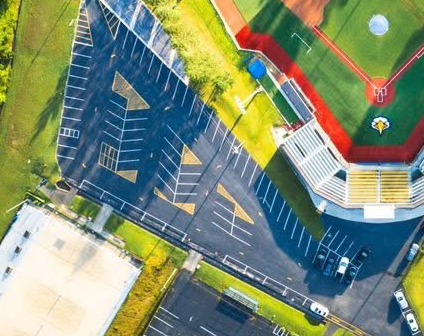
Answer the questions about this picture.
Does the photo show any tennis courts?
No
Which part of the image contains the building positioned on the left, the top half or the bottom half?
bottom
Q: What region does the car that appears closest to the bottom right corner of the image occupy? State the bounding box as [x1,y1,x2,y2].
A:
[407,313,421,333]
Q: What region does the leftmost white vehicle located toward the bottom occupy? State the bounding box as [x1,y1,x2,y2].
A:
[309,303,329,320]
